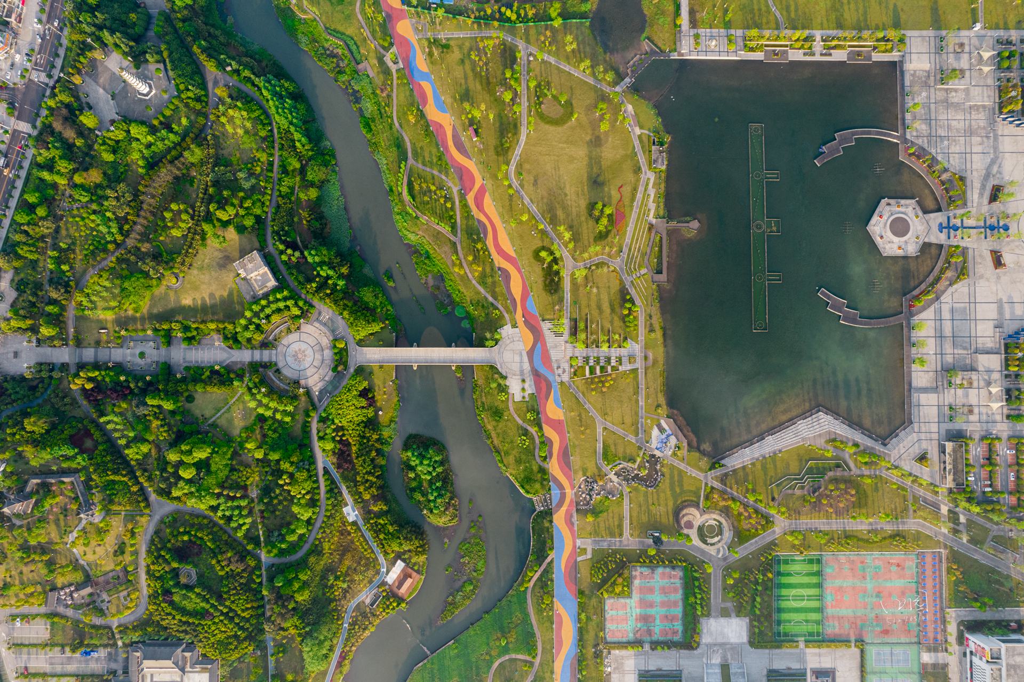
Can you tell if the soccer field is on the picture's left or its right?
right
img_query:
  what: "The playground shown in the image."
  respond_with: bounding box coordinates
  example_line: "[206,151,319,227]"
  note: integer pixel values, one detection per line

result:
[651,419,678,456]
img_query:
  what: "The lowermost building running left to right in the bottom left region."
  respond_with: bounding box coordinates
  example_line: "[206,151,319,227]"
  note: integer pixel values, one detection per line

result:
[108,634,221,682]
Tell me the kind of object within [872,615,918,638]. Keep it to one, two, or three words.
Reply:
basketball court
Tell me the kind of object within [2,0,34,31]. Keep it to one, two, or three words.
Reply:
building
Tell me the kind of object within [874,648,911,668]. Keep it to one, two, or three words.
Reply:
tennis court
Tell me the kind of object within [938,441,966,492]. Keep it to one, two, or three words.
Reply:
building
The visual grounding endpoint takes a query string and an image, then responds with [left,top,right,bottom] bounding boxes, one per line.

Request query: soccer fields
[773,554,824,641]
